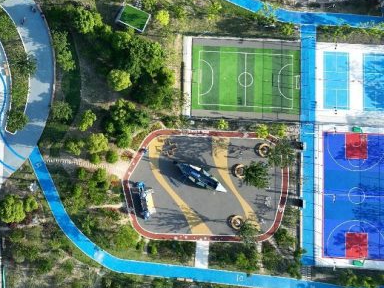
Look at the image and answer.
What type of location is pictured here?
sports ground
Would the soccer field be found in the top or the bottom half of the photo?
top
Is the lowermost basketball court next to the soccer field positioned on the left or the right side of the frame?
right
